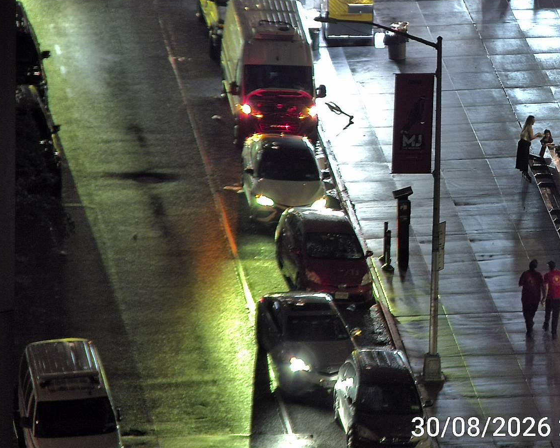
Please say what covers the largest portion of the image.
paved ground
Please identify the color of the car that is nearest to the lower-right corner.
black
